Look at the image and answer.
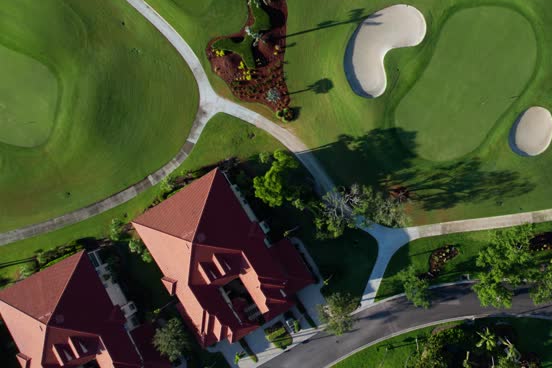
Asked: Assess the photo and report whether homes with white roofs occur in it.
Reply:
No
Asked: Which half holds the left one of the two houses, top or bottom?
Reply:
bottom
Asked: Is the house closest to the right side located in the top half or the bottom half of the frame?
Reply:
bottom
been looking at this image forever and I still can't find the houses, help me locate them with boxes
[0,240,190,368]
[132,165,317,350]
